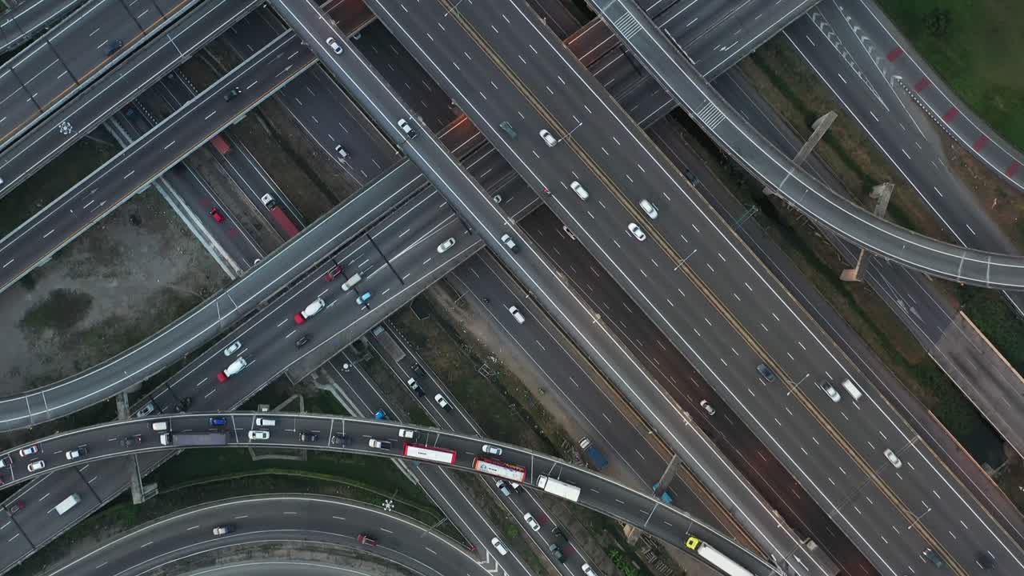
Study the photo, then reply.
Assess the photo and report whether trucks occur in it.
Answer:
Yes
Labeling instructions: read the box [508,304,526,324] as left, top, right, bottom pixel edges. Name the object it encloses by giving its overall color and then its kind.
white car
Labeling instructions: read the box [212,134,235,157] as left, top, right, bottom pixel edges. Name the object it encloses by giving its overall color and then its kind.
red truck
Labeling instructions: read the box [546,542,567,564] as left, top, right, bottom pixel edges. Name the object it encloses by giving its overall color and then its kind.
gray truck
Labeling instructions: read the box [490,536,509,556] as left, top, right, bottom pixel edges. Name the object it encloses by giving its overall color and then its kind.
white car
